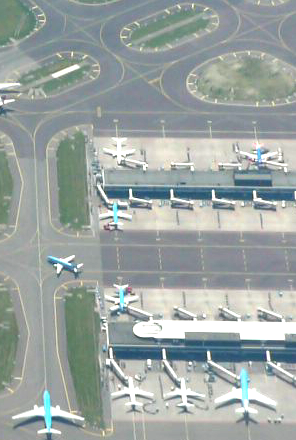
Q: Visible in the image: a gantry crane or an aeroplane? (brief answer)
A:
aeroplane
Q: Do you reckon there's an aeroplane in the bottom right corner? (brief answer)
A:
Yes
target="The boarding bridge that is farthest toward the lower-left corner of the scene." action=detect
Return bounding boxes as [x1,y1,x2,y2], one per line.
[109,349,129,382]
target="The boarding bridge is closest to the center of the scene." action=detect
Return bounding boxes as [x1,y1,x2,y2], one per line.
[128,190,153,208]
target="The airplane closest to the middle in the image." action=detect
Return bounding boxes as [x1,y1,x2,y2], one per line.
[99,203,131,226]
